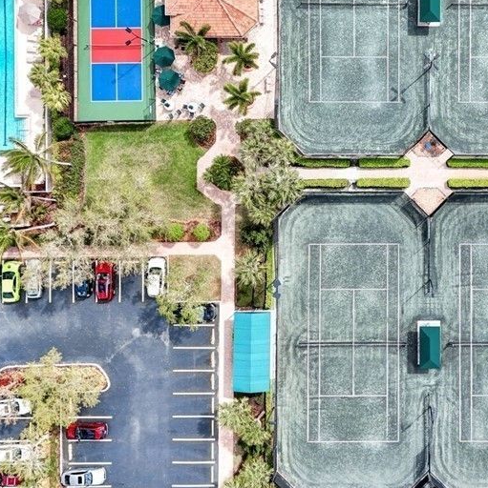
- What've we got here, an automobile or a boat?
automobile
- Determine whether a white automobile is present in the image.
Yes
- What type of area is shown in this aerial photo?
sports ground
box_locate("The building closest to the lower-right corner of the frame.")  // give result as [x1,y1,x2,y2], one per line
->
[418,323,440,370]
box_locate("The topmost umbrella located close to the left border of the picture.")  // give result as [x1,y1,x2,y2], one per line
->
[21,3,45,25]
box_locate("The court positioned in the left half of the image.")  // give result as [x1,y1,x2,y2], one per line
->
[76,0,155,123]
